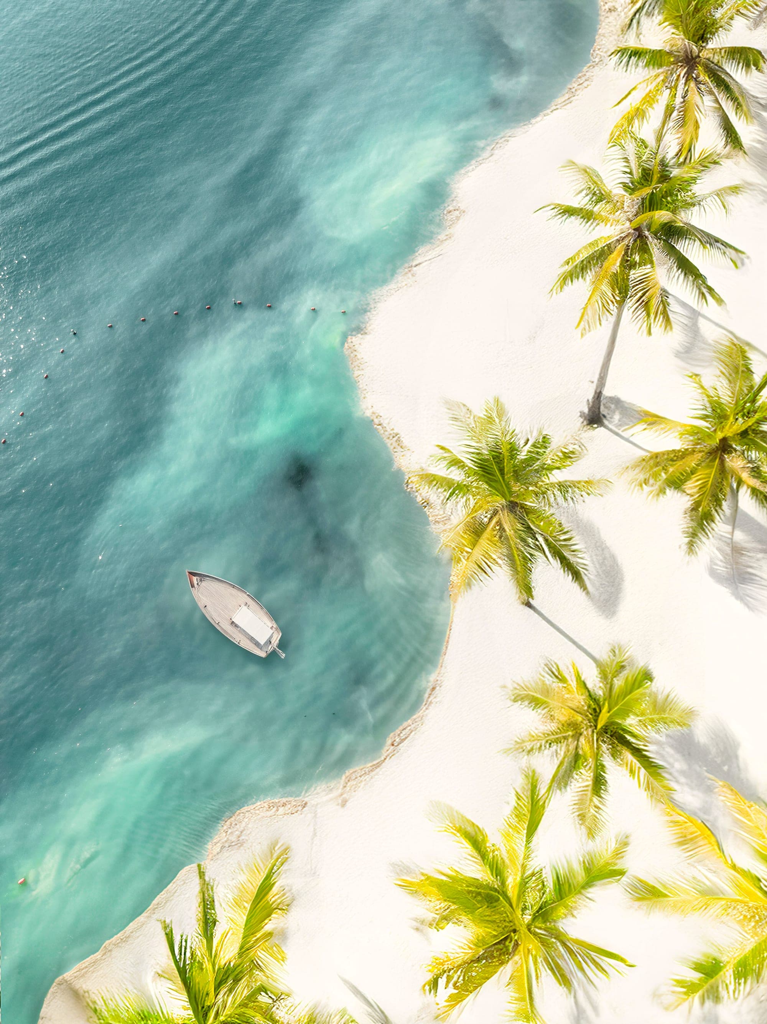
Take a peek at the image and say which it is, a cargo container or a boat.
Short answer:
boat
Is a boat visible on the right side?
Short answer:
No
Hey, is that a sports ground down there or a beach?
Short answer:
beach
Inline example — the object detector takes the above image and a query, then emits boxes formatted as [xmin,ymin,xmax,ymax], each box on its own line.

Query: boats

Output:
[186,571,290,661]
